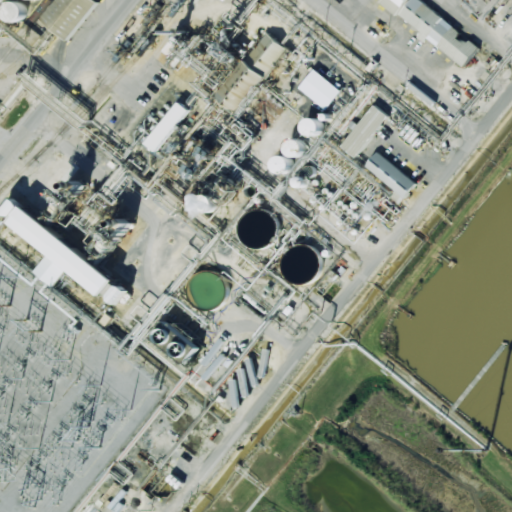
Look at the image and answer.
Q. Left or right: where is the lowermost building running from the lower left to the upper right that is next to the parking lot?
left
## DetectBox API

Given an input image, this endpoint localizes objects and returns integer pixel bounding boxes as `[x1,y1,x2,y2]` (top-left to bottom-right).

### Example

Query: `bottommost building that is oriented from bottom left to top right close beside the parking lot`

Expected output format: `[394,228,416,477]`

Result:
[144,102,194,151]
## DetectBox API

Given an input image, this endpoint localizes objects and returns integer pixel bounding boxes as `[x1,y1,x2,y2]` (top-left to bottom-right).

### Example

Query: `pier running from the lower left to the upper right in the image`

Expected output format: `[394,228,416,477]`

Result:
[449,340,508,413]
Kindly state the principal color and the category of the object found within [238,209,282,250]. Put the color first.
black storage tank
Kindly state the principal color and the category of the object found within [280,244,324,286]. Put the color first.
black storage tank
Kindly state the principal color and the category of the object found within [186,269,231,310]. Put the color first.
green storage tank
